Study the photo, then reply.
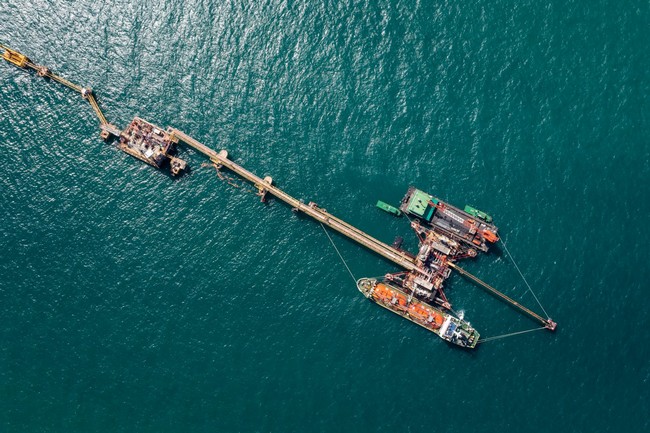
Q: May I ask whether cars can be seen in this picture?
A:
No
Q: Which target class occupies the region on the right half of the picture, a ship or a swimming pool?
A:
ship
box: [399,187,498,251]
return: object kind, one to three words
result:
ship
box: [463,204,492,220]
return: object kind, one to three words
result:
boat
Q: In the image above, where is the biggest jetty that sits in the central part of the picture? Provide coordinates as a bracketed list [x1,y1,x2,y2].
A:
[166,126,432,276]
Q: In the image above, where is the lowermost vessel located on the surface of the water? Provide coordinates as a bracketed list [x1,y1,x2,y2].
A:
[357,277,480,349]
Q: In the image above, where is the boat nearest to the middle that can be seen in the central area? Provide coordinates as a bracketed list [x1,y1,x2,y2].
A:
[376,200,400,215]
